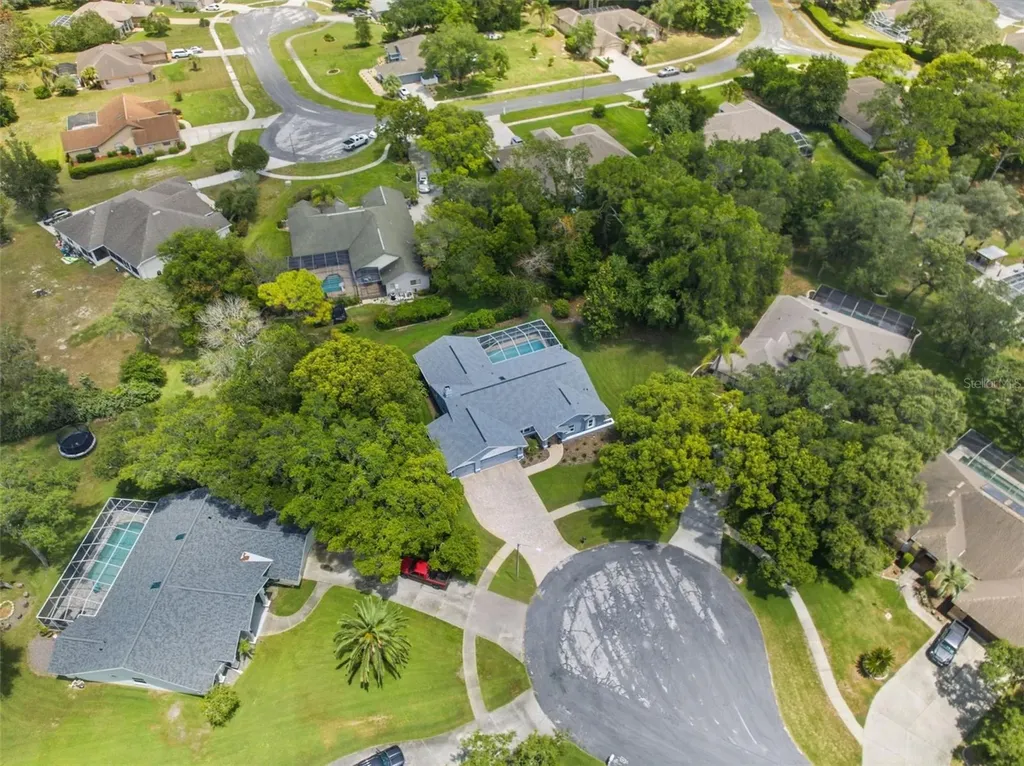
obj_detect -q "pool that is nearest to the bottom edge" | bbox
[49,511,147,632]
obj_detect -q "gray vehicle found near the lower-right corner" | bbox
[925,619,972,667]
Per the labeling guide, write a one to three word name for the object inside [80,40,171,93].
house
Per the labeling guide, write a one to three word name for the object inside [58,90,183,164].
house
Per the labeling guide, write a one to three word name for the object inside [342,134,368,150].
vehicle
